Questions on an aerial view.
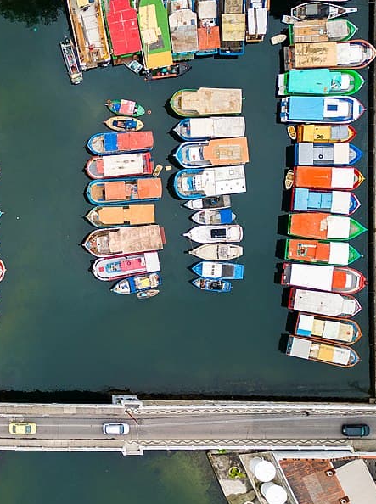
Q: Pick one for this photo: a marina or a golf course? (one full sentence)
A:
What you see here is a marina.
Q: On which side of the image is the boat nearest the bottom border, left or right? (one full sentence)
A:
You can find the boat nearest the bottom border on the right side of the picture.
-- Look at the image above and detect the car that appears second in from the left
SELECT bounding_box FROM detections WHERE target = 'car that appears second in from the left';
[101,422,130,436]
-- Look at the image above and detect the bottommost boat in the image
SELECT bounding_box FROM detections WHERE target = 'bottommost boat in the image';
[283,337,376,365]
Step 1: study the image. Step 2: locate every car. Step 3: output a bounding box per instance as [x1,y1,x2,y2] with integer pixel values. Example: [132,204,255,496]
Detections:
[340,423,371,438]
[101,422,130,436]
[8,422,37,436]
